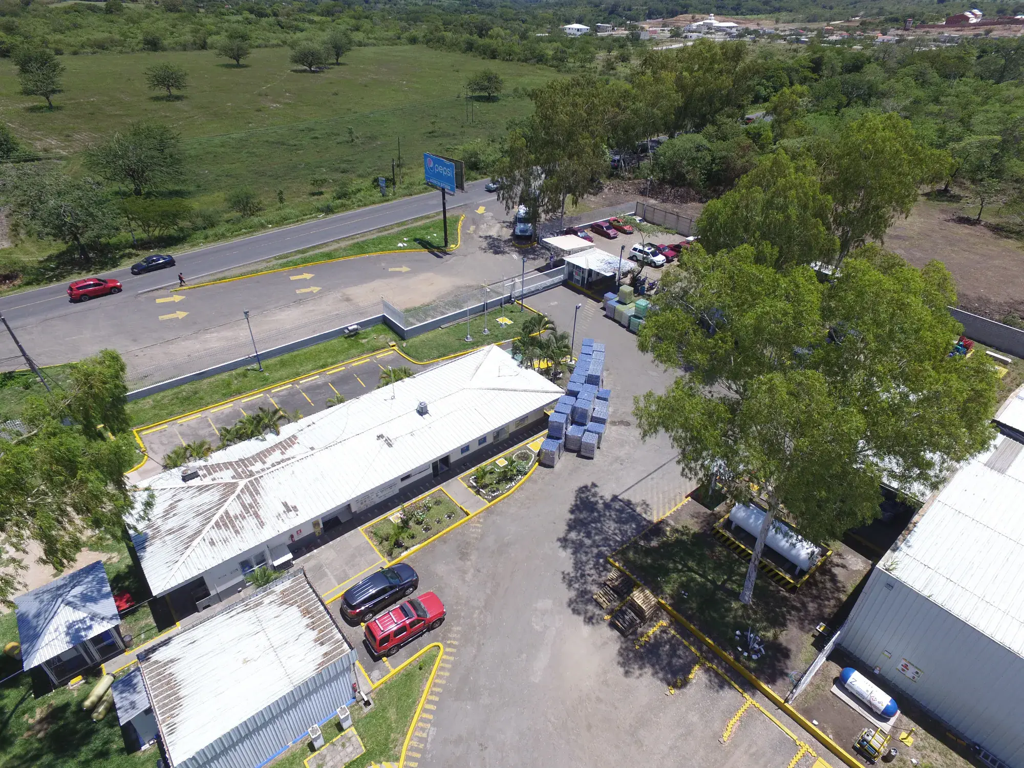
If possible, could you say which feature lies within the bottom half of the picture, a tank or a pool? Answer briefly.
tank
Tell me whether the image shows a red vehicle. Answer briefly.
Yes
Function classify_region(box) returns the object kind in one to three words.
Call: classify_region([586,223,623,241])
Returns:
car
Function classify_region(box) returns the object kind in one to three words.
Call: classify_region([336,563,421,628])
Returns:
car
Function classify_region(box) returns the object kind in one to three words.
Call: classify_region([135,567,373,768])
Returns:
shed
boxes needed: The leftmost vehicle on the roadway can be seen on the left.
[67,275,125,301]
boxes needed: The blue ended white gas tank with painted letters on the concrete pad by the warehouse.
[837,666,899,722]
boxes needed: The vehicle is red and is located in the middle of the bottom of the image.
[360,590,448,660]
